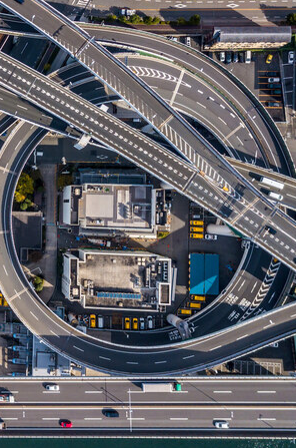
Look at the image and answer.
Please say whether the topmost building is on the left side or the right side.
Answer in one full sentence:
You can find the topmost building on the right side of the picture.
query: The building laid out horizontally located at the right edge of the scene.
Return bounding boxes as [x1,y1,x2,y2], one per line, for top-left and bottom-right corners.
[199,25,294,51]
